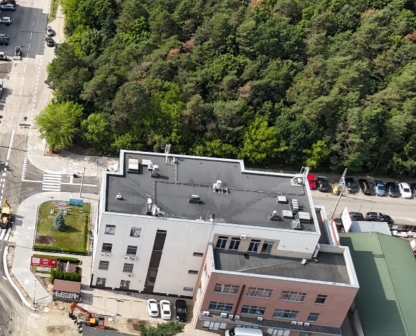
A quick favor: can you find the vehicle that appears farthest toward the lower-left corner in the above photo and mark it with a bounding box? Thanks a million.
[66,304,105,329]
